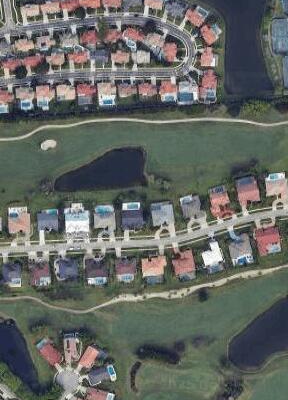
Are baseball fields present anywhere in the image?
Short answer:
No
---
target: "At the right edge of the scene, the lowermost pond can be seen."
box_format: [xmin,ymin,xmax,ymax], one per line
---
[228,296,288,369]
